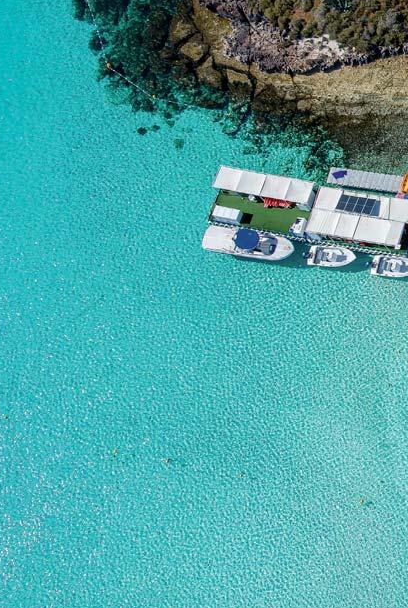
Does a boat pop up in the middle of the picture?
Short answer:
Yes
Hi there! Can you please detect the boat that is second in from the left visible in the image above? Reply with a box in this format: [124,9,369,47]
[305,244,356,268]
